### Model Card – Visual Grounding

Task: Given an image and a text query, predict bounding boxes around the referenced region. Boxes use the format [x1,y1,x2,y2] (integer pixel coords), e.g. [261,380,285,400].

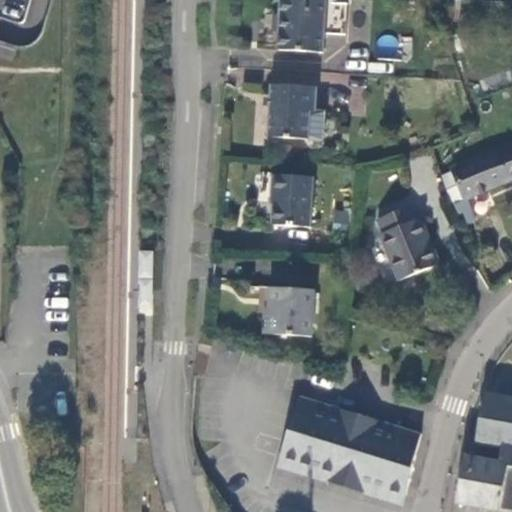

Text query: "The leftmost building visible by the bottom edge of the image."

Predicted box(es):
[278,398,422,502]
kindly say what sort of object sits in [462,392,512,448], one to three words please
building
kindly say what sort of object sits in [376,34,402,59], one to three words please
swimming pool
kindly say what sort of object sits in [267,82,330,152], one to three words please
house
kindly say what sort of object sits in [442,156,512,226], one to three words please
house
